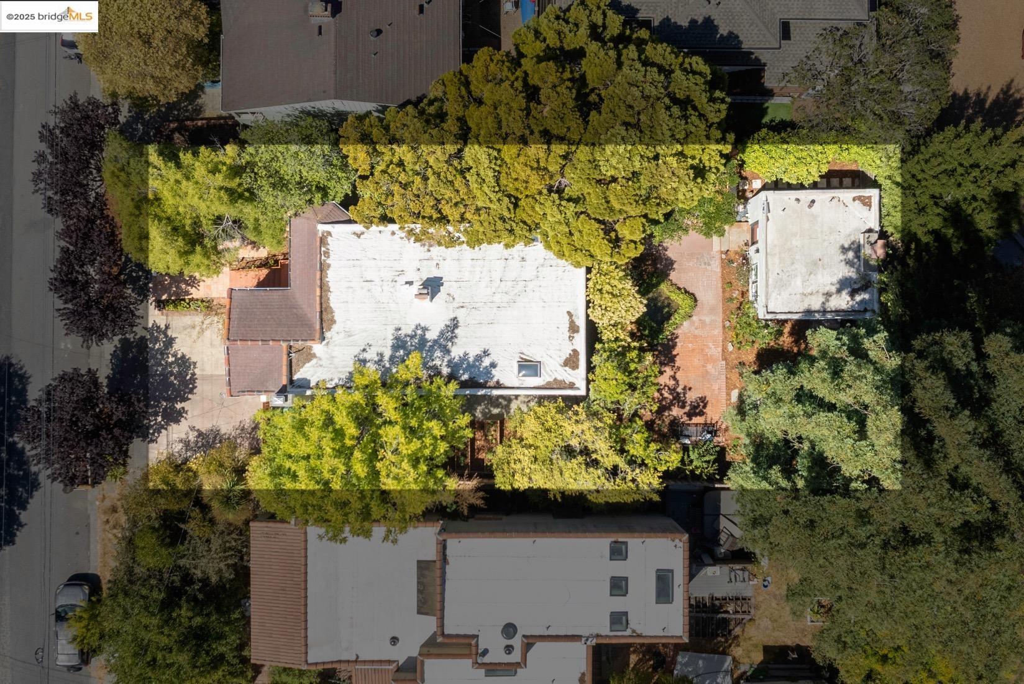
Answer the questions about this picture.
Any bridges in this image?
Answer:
No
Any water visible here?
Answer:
No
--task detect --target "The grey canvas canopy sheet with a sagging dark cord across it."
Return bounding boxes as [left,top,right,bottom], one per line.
[672,642,733,684]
